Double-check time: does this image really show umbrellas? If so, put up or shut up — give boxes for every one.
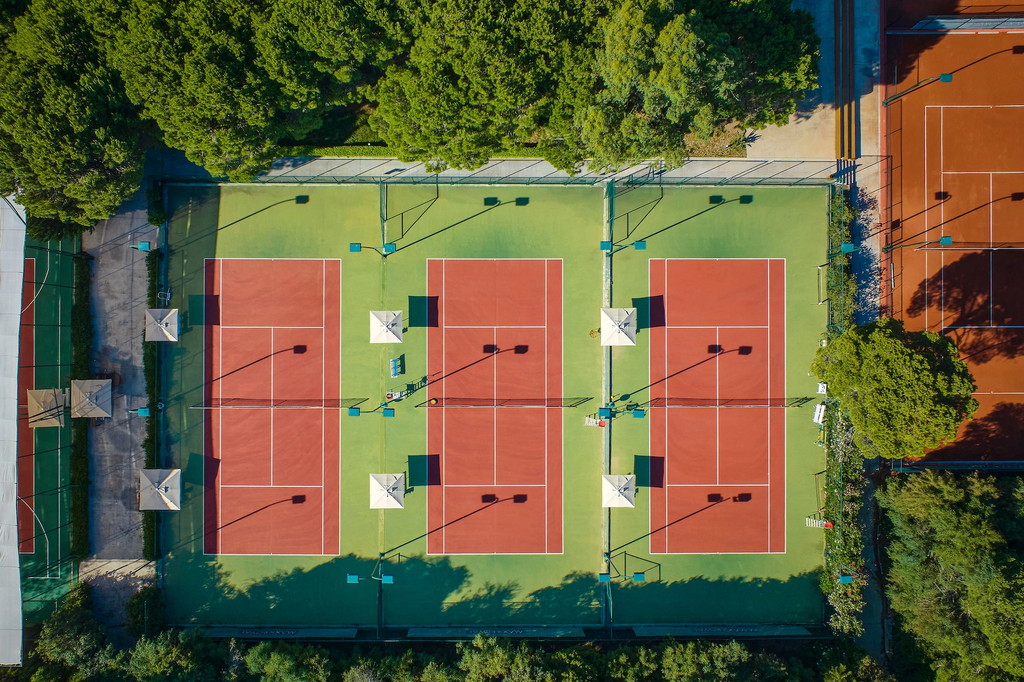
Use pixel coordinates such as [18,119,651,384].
[602,474,634,506]
[371,311,404,343]
[600,310,635,344]
[371,473,405,507]
[147,309,181,342]
[142,469,183,509]
[31,389,69,427]
[75,379,114,417]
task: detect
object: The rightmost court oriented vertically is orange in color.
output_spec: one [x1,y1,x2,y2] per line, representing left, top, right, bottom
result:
[888,31,1024,461]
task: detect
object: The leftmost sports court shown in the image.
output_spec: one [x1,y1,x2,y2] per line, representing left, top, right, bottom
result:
[19,193,79,618]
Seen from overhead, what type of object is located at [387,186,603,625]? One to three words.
tennis court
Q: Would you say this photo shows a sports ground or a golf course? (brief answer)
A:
sports ground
